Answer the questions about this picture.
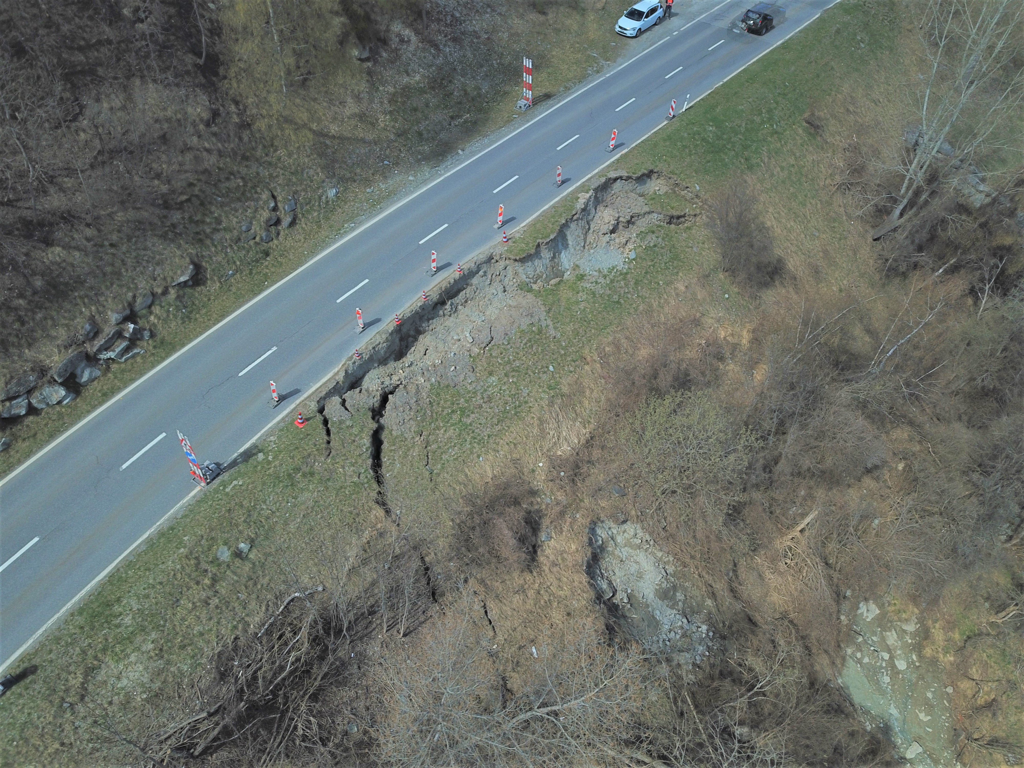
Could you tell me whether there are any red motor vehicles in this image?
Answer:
No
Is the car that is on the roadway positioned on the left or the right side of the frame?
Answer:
right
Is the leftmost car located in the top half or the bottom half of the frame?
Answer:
top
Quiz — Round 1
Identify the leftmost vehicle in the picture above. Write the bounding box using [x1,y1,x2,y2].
[614,0,665,38]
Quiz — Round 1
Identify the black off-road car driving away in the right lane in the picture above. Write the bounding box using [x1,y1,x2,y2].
[740,0,785,34]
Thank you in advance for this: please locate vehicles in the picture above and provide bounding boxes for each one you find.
[740,0,785,34]
[614,0,665,38]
